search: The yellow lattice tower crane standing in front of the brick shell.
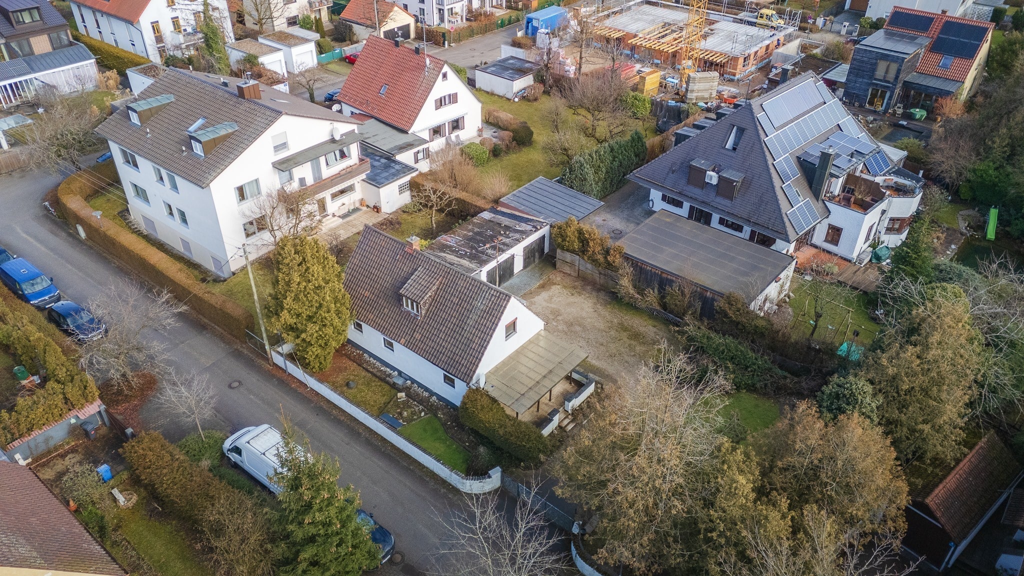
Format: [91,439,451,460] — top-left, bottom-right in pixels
[660,0,726,85]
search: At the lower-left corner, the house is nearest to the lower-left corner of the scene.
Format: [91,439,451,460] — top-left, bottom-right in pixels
[0,463,137,576]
